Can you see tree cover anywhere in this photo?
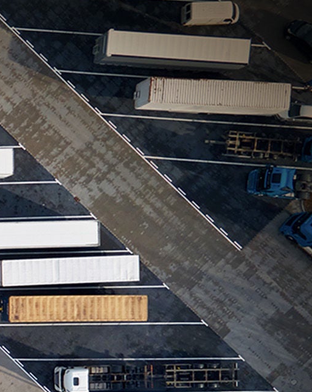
No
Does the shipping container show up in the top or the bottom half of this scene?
bottom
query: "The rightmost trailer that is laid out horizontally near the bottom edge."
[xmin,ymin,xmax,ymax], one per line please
[152,364,238,388]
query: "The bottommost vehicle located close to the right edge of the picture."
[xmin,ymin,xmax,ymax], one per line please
[274,211,312,261]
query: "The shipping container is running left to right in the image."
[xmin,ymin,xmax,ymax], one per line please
[0,295,148,322]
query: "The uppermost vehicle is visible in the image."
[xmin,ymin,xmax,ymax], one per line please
[179,1,235,30]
